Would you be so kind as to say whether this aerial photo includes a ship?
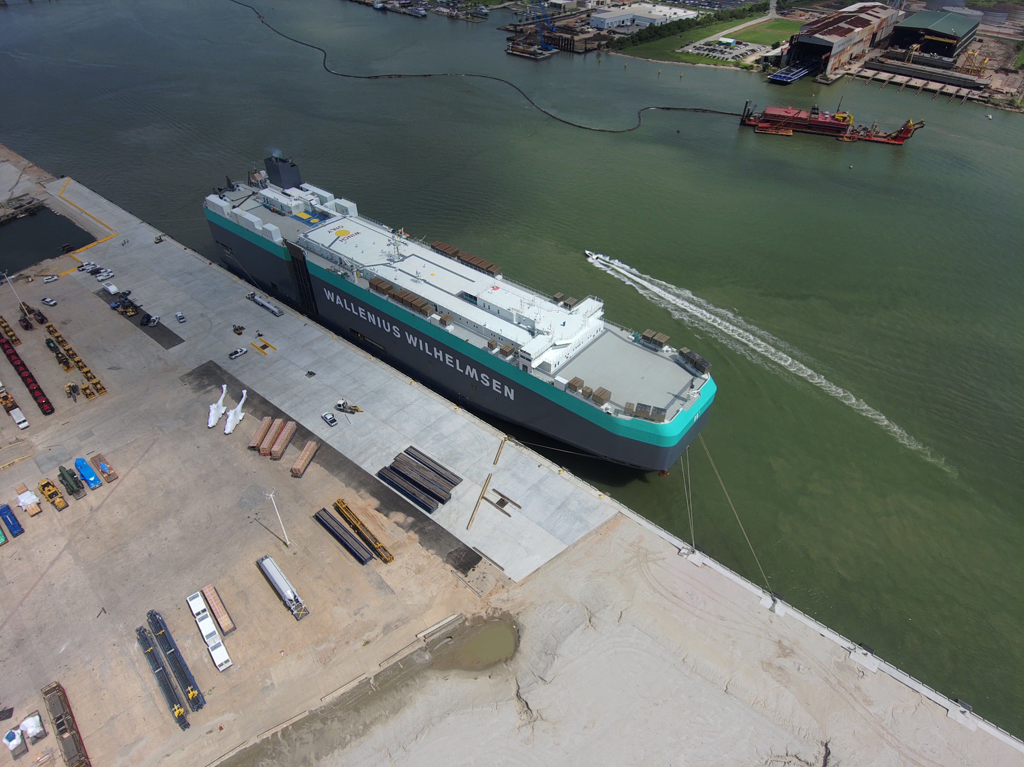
Yes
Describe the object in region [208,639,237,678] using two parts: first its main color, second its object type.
white vehicle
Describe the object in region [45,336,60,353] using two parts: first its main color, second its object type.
black work vehicle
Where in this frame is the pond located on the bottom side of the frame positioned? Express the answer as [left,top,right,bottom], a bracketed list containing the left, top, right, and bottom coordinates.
[459,625,518,668]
